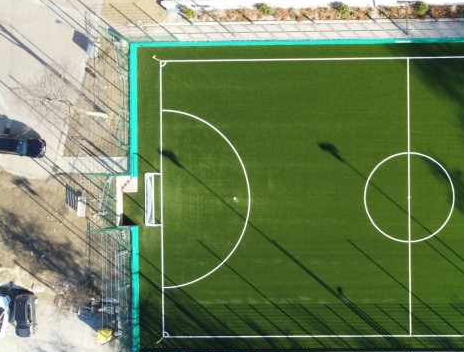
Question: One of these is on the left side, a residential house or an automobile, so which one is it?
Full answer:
The one visible on the left side is an automobile.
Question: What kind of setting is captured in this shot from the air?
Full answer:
The picture captures a sports ground.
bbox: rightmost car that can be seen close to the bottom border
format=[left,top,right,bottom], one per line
[10,292,37,337]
